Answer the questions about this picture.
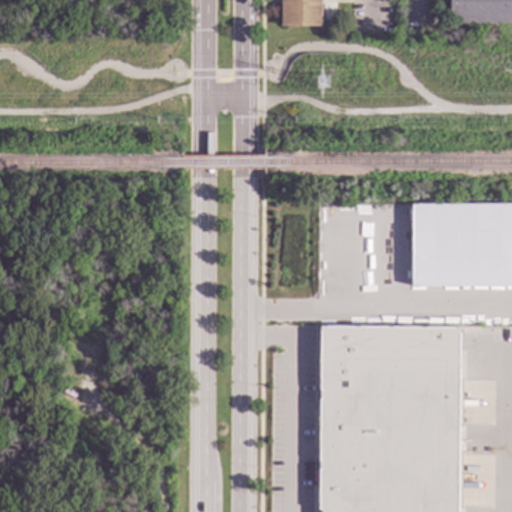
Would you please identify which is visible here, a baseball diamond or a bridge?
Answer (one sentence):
Looking from above, you can make out a bridge.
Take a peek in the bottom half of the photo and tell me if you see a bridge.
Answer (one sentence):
No, there's no bridge to be seen in the bottom half of the photo.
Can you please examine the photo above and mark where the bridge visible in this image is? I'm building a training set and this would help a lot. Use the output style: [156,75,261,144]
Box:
[166,143,289,184]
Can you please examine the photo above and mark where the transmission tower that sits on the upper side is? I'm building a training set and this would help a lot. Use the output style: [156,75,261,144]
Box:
[316,62,332,98]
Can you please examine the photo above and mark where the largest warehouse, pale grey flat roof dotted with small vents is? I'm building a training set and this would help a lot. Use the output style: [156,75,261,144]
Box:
[320,326,466,512]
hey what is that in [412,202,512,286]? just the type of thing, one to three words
building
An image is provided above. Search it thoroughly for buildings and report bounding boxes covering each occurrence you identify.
[320,326,466,512]
[412,202,512,286]
[452,0,512,23]
[282,0,324,26]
